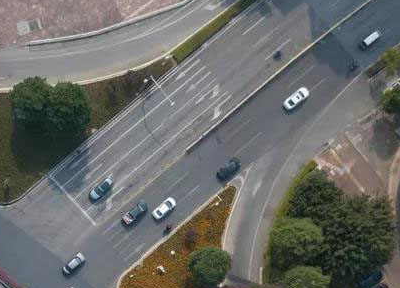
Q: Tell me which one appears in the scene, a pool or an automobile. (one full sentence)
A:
Of the two, only an automobile appears.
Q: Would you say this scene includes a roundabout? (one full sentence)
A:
No, the photo shows no roundabout.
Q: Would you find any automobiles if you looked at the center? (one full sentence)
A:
Yes, an automobile can be seen at the center.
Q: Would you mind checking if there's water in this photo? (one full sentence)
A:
No, there's no water in this view.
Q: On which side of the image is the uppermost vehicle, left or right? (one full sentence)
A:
The uppermost vehicle sits on the right side.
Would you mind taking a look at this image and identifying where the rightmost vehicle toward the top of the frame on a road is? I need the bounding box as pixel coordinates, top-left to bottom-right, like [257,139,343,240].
[377,75,400,97]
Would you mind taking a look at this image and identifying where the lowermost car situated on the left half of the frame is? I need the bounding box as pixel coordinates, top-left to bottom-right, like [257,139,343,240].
[61,252,86,275]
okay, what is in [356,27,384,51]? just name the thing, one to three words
vehicle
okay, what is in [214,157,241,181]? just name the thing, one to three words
car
